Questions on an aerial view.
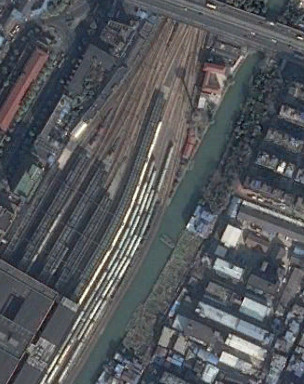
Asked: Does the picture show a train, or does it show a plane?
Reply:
train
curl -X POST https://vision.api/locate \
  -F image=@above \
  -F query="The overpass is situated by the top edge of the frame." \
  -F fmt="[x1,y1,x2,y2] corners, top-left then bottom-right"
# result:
[124,0,304,72]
